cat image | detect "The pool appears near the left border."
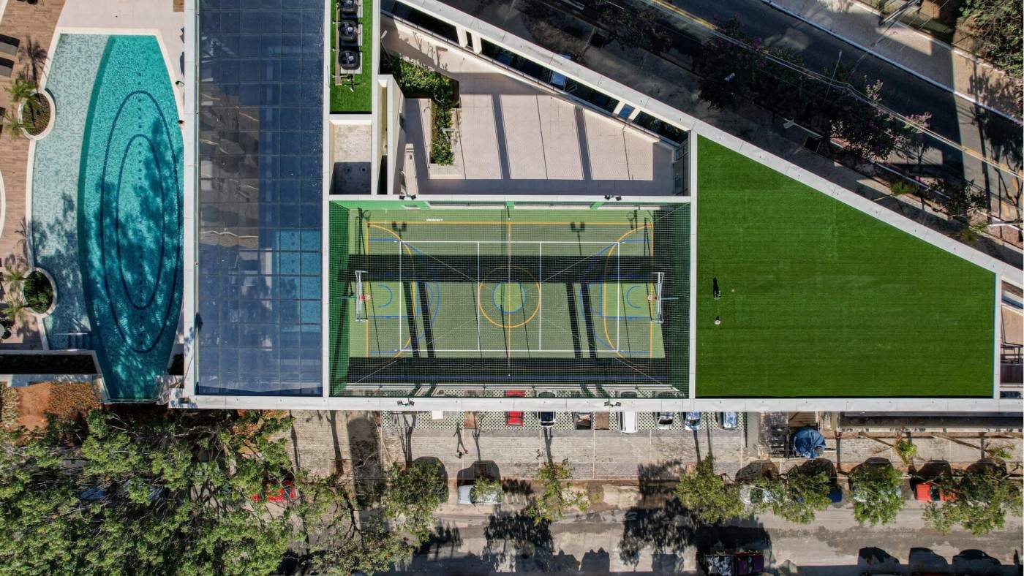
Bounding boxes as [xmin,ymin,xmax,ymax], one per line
[23,30,183,402]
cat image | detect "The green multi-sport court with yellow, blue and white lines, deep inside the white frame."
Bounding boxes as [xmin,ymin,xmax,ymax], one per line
[352,212,666,384]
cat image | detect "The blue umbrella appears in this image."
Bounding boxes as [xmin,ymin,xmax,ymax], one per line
[789,426,823,458]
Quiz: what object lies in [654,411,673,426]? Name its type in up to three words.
car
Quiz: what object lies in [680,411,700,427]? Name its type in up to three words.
car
